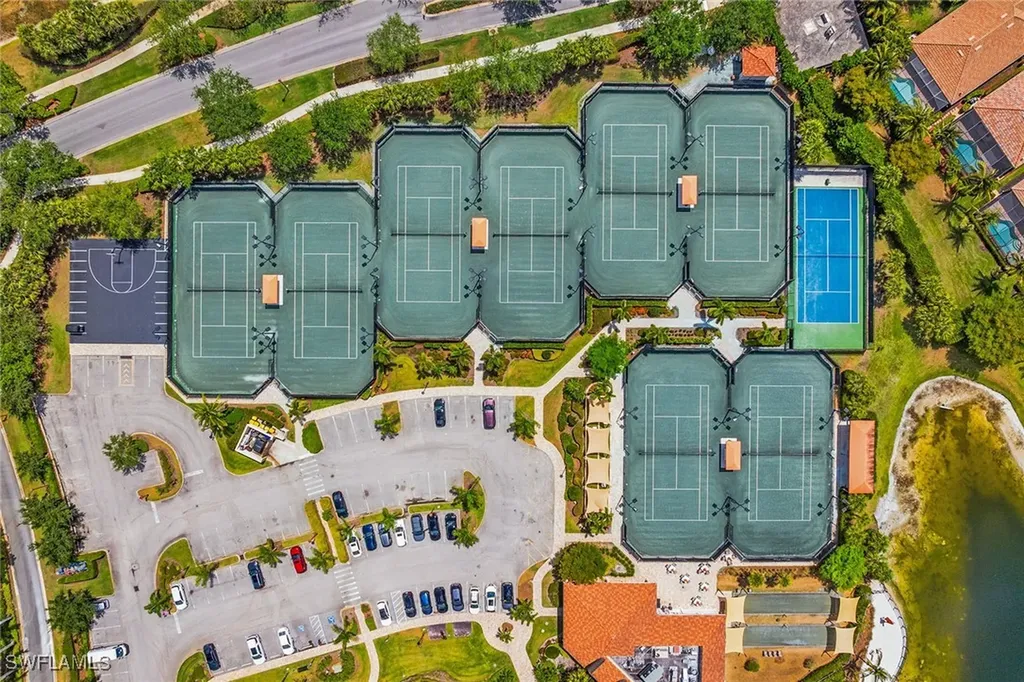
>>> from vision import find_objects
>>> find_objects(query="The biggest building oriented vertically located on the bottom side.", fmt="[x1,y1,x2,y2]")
[841,418,874,494]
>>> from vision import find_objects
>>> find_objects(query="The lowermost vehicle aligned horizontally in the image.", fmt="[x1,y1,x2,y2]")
[83,643,130,664]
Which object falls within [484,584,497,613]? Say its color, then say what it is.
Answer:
white vehicle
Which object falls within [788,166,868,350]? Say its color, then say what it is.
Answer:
blue tennis court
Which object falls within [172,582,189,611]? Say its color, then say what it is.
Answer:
white car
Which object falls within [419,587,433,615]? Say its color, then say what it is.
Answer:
blue car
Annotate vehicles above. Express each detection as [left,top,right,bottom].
[376,598,392,627]
[172,582,189,611]
[332,489,350,518]
[419,587,433,615]
[427,512,441,541]
[362,523,378,551]
[83,643,130,664]
[484,584,497,613]
[278,625,296,654]
[434,399,446,426]
[501,581,513,610]
[393,517,408,546]
[444,512,457,540]
[203,641,222,672]
[246,634,266,664]
[402,590,417,618]
[434,585,448,614]
[377,519,393,548]
[450,582,464,611]
[291,544,307,573]
[468,585,481,613]
[345,532,362,559]
[411,512,425,541]
[483,399,496,428]
[248,560,266,589]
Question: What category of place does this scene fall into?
sports ground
